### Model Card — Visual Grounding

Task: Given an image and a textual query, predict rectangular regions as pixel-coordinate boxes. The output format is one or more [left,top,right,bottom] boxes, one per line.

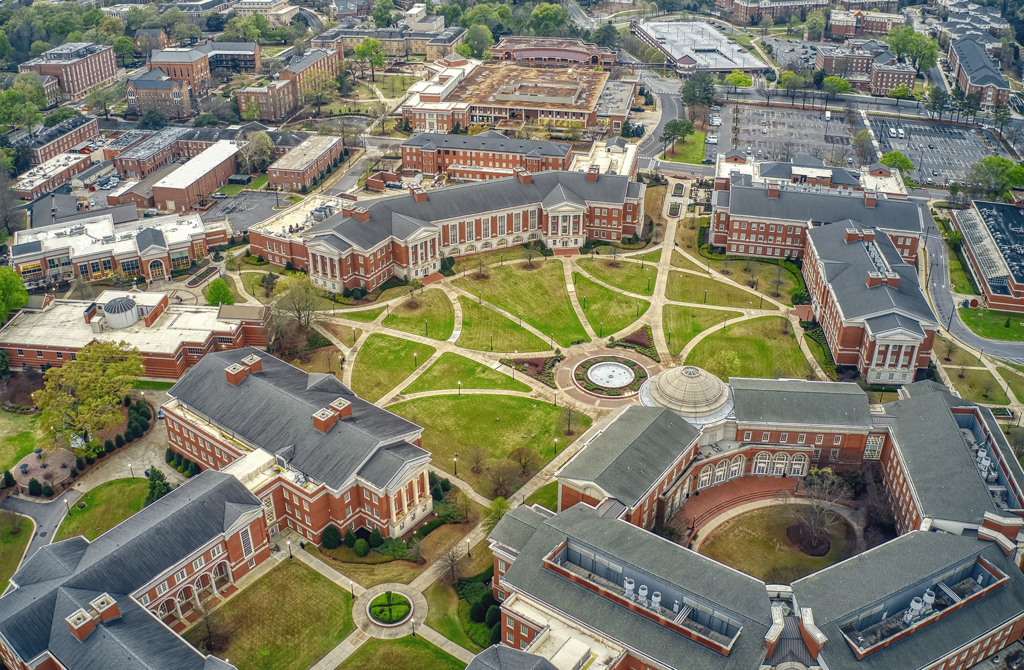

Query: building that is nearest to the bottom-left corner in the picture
[0,469,271,670]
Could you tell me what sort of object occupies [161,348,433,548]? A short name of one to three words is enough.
building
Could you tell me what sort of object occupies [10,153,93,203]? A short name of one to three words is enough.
building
